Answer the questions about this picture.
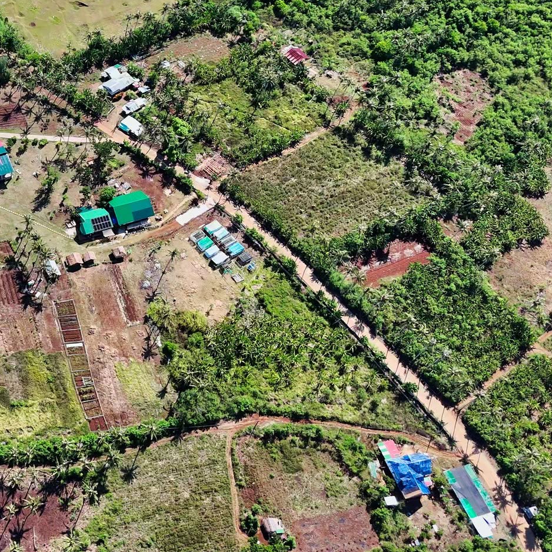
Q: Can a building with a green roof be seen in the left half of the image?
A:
Yes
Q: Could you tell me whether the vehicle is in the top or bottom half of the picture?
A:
bottom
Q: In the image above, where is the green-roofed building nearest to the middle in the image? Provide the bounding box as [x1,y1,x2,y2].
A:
[107,192,154,233]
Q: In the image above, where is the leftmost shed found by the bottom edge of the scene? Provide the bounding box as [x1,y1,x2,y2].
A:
[261,519,285,541]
